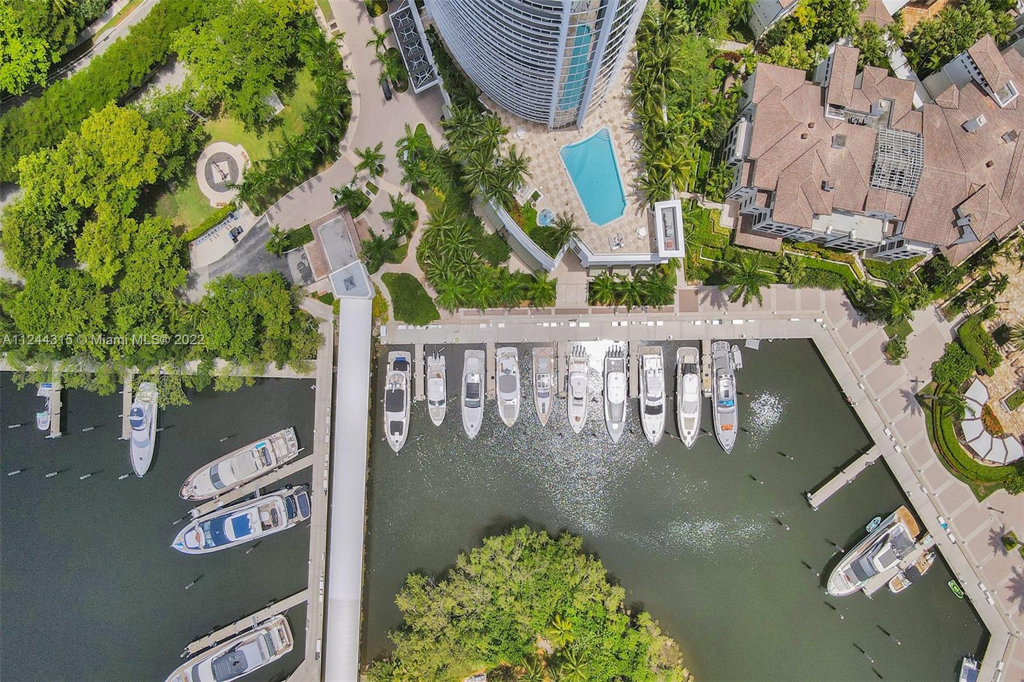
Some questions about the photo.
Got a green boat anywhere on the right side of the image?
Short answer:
Yes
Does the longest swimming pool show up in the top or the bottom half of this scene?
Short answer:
top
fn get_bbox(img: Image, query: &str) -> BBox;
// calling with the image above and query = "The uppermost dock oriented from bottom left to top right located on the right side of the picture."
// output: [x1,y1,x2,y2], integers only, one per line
[809,445,882,508]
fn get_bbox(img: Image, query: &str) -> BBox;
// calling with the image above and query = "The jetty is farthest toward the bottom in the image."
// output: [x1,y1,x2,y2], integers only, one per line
[188,587,307,655]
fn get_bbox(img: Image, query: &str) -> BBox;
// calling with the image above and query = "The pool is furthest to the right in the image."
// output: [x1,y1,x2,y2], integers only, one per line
[560,127,627,227]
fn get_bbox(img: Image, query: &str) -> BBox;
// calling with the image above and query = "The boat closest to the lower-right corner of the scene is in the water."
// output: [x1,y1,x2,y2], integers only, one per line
[956,651,977,682]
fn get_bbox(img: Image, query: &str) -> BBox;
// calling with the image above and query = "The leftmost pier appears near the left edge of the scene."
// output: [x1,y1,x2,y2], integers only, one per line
[48,372,67,436]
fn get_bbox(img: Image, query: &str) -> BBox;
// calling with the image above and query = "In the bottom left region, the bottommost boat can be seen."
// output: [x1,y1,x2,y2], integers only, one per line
[167,614,294,682]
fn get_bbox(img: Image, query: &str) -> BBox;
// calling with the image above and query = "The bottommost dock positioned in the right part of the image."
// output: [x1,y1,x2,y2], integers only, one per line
[863,535,936,596]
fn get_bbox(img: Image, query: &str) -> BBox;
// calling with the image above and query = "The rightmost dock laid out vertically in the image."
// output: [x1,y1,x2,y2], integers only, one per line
[699,341,712,394]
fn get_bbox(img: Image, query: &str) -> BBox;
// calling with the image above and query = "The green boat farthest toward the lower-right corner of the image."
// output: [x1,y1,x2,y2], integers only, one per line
[947,580,964,599]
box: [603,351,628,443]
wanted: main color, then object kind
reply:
white boat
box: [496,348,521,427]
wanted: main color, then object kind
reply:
white boat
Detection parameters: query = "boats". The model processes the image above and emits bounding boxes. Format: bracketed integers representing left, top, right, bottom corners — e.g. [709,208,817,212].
[496,348,521,427]
[36,383,52,431]
[956,651,977,682]
[947,580,964,599]
[386,351,414,455]
[731,345,744,374]
[603,351,628,443]
[865,517,882,531]
[710,342,742,455]
[566,351,589,434]
[123,382,163,478]
[637,346,667,445]
[889,550,936,592]
[177,427,305,500]
[824,504,920,596]
[167,614,294,682]
[673,348,705,450]
[428,355,446,426]
[461,350,486,438]
[168,484,311,550]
